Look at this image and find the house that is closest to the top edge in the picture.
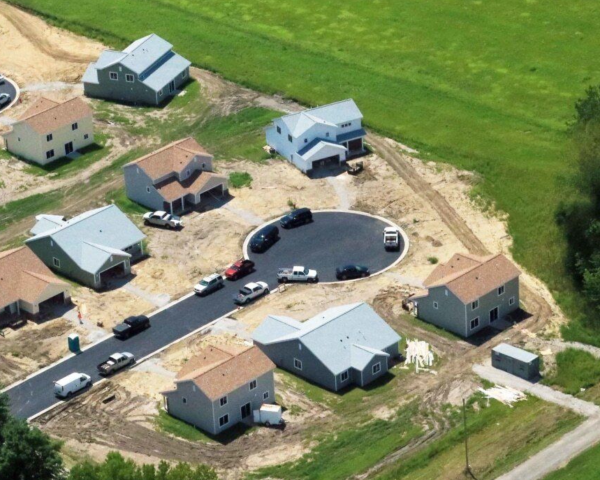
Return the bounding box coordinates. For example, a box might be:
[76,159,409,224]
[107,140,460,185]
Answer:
[82,34,190,104]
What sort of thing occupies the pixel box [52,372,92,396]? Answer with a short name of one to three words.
vehicle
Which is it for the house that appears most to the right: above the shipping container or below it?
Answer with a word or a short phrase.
above it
